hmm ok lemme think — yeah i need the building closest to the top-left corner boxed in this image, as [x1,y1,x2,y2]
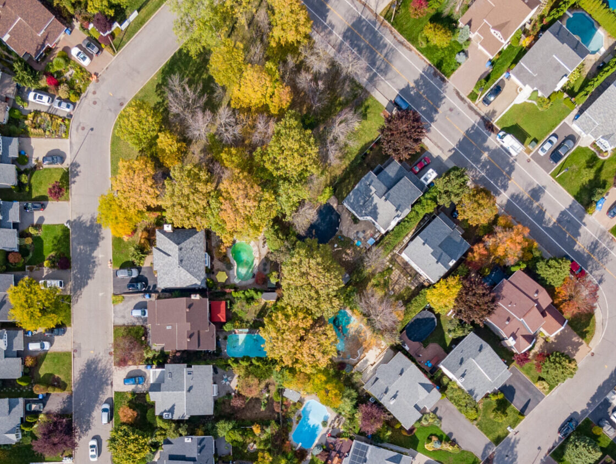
[0,0,70,67]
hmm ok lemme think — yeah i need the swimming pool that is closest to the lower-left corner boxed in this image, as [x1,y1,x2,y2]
[225,333,269,359]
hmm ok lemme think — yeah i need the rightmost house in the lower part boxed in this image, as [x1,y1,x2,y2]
[483,269,566,352]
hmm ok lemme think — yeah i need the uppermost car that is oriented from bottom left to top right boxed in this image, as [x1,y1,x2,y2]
[482,85,501,106]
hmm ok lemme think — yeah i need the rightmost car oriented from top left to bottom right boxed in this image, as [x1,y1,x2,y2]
[596,417,616,438]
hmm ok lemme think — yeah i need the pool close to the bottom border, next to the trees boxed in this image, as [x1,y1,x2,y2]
[291,397,331,451]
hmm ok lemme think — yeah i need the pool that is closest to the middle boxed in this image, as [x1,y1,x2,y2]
[306,202,343,246]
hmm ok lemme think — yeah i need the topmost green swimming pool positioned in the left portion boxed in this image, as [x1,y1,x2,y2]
[230,240,256,282]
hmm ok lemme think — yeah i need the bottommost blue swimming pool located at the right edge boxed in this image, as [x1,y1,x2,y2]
[565,10,605,56]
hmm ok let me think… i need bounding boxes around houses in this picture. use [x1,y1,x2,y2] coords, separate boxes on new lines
[399,208,469,285]
[148,292,217,350]
[0,70,21,130]
[505,21,589,109]
[0,0,70,67]
[157,435,216,464]
[565,76,616,159]
[0,398,28,444]
[346,439,413,464]
[149,366,213,421]
[363,351,442,430]
[343,159,424,237]
[0,273,26,321]
[483,269,566,352]
[0,196,24,250]
[152,224,207,289]
[436,332,512,402]
[452,0,543,67]
[0,329,29,380]
[0,133,24,187]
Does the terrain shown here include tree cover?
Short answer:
Yes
